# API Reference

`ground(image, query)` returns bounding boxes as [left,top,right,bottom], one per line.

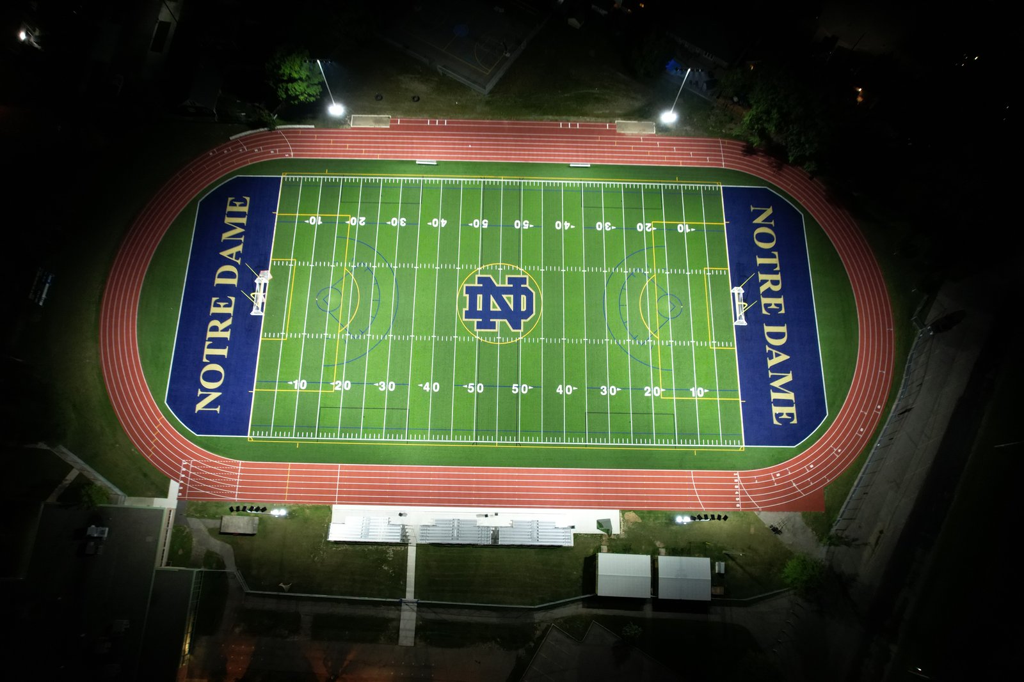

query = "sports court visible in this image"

[377,0,551,92]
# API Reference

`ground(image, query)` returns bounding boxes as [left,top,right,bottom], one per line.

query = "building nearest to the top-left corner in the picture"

[3,1,65,57]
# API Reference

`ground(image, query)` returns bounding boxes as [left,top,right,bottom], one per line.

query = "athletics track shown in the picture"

[94,117,898,512]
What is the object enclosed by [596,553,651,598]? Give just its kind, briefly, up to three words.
shed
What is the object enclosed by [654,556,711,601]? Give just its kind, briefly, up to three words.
shed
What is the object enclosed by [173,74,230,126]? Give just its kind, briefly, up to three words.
house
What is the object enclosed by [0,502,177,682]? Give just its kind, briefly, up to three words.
building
